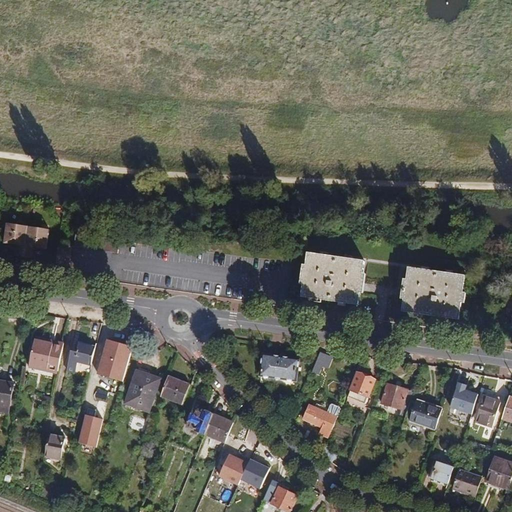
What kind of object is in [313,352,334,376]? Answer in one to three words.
shed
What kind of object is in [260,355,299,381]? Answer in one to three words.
house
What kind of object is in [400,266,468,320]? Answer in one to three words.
building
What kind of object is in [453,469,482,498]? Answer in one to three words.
house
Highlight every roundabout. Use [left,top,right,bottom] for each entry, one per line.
[126,297,222,368]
